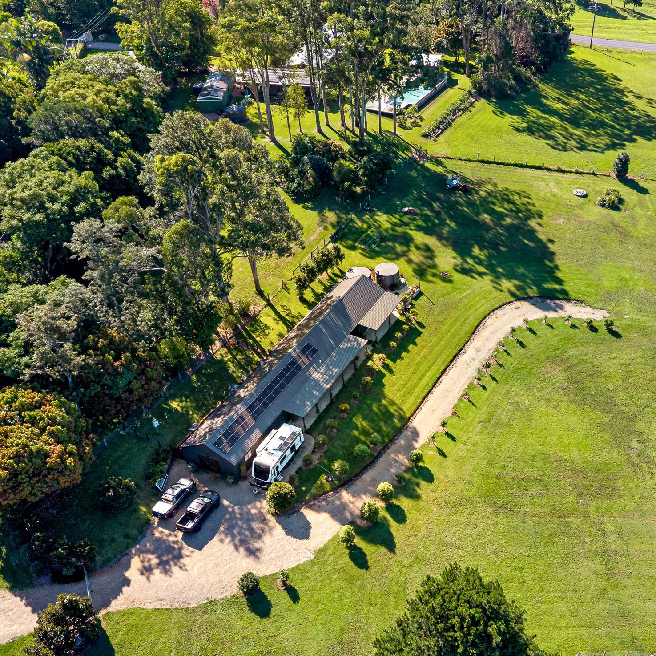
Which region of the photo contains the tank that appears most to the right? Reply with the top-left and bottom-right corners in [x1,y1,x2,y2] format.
[375,262,400,289]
